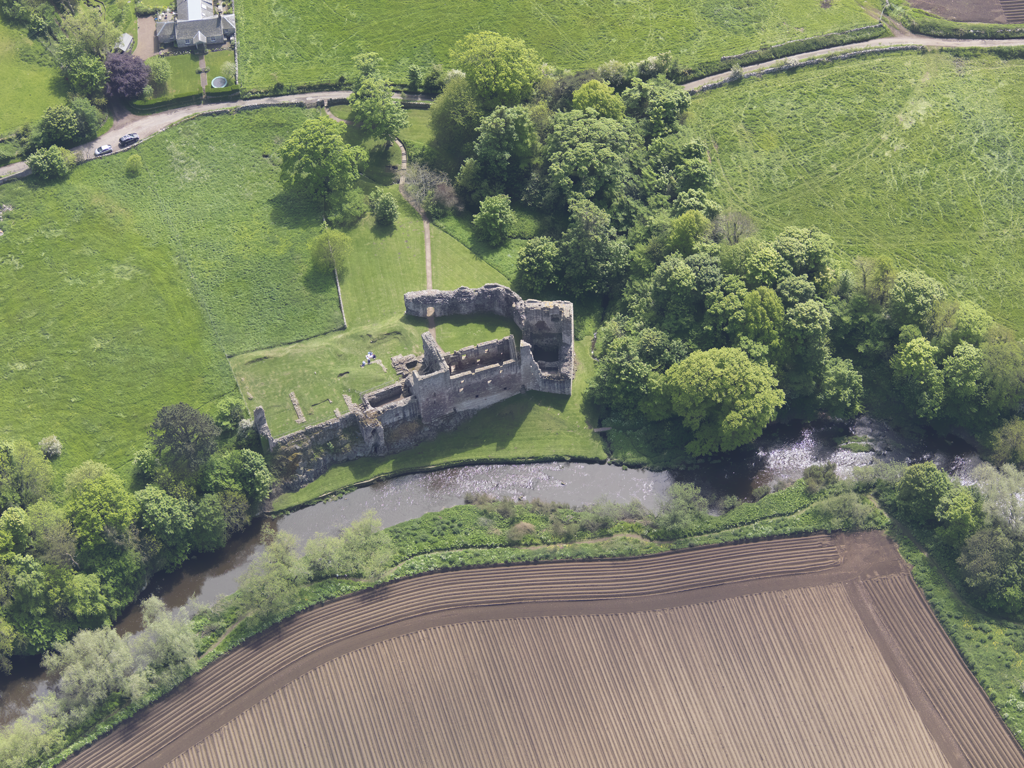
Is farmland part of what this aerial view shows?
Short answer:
Yes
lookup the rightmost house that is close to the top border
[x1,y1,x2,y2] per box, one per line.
[156,0,237,57]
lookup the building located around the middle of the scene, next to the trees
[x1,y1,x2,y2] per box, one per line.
[254,277,574,457]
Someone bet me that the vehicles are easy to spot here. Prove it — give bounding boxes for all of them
[94,143,113,153]
[118,132,140,145]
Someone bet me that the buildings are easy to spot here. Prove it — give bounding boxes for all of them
[156,0,237,57]
[114,29,132,51]
[254,277,574,457]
